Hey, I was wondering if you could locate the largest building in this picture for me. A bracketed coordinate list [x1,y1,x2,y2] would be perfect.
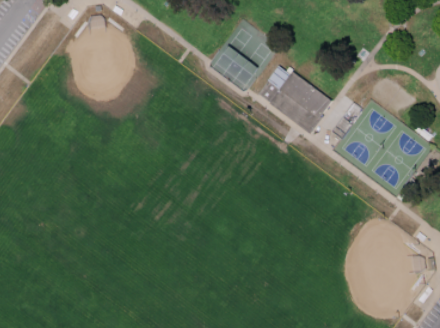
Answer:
[260,66,332,133]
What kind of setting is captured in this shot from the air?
sports ground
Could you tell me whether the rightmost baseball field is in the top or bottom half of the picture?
bottom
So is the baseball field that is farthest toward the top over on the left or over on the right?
left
